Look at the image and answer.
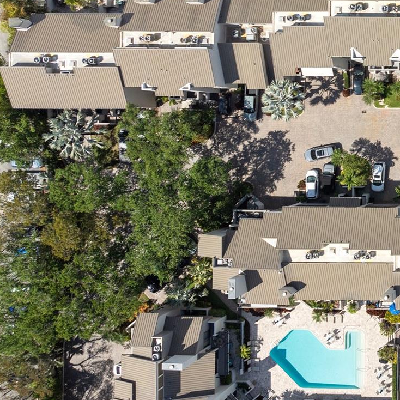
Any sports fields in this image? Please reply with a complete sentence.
No, no sports field can be seen from above.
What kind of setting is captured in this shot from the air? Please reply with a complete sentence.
The picture captures a residential area.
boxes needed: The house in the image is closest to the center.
[197,209,302,305]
